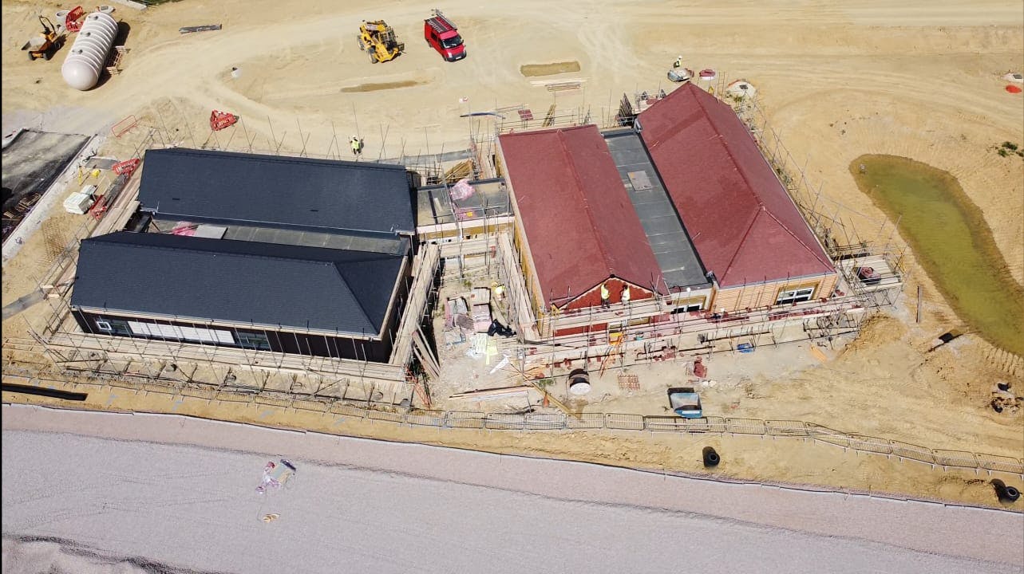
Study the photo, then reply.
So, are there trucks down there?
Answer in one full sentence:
Yes, the photo shows a truck.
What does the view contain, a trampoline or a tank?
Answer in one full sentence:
Looking from above, you can make out a tank.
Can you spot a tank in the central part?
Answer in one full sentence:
No, I can find no tank in the central part.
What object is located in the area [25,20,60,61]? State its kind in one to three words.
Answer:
truck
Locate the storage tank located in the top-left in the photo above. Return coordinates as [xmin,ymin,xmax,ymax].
[61,12,121,88]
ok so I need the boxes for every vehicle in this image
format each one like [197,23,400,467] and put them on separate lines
[422,13,467,62]
[357,21,398,69]
[25,20,60,61]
